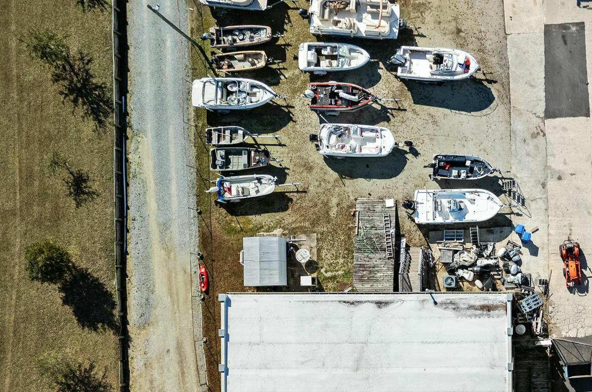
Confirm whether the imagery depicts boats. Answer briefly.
Yes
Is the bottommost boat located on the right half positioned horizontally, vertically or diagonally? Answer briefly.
horizontally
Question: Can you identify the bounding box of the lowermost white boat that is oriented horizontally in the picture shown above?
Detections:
[398,187,503,225]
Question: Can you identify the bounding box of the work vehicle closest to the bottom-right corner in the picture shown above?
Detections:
[559,237,582,281]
